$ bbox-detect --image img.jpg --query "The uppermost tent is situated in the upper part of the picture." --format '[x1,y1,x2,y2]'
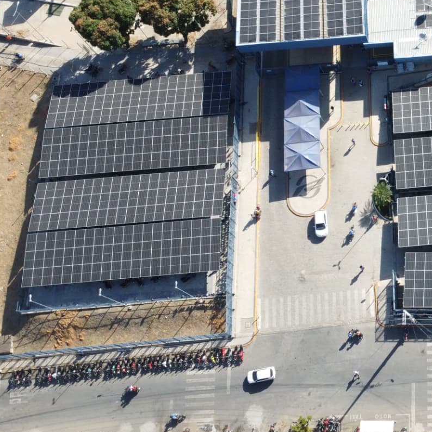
[284,63,324,95]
